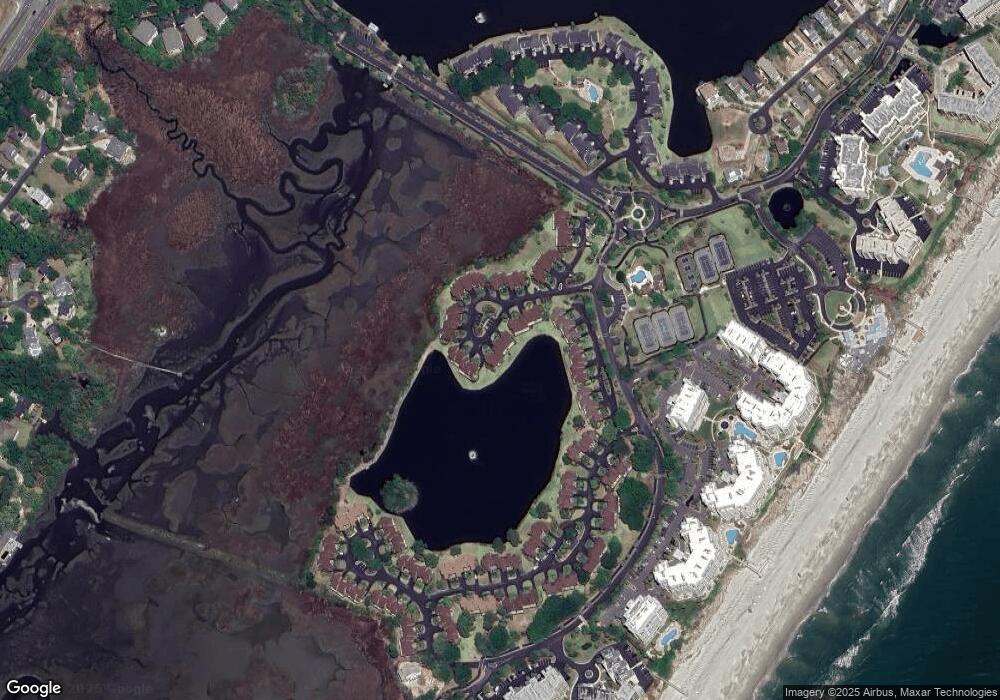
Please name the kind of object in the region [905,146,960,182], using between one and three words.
swimming pool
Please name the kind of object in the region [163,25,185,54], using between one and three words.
house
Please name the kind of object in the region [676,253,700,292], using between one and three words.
tennis court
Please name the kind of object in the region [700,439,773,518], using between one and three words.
building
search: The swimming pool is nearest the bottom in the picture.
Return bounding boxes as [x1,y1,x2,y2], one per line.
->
[655,624,681,655]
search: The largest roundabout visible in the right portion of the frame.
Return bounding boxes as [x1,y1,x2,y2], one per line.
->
[615,190,661,236]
